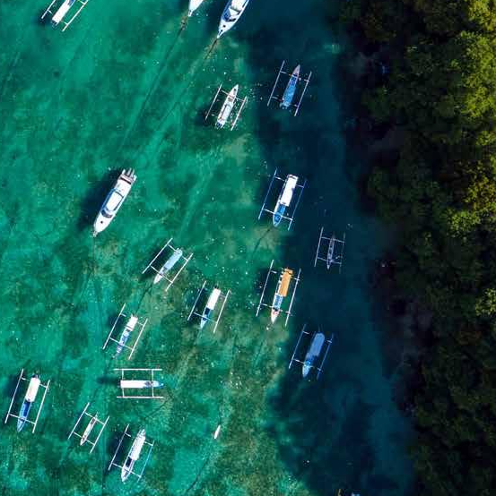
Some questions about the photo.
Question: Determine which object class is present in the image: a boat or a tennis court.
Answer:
boat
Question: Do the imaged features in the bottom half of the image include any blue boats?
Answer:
Yes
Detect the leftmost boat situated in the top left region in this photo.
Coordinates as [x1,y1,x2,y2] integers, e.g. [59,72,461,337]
[42,0,88,31]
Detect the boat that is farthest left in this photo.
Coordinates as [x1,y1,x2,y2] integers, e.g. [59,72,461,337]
[5,371,50,433]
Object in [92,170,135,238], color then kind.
white boat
